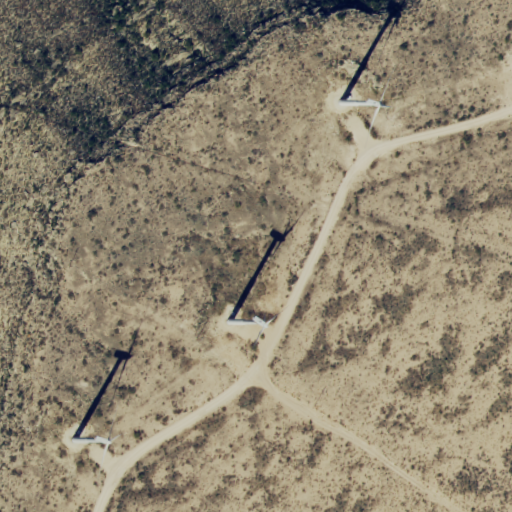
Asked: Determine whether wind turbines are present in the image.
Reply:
Yes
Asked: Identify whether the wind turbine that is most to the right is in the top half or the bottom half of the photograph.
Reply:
top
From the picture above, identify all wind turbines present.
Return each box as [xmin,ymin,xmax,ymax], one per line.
[224,308,281,352]
[69,422,120,473]
[336,78,388,132]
